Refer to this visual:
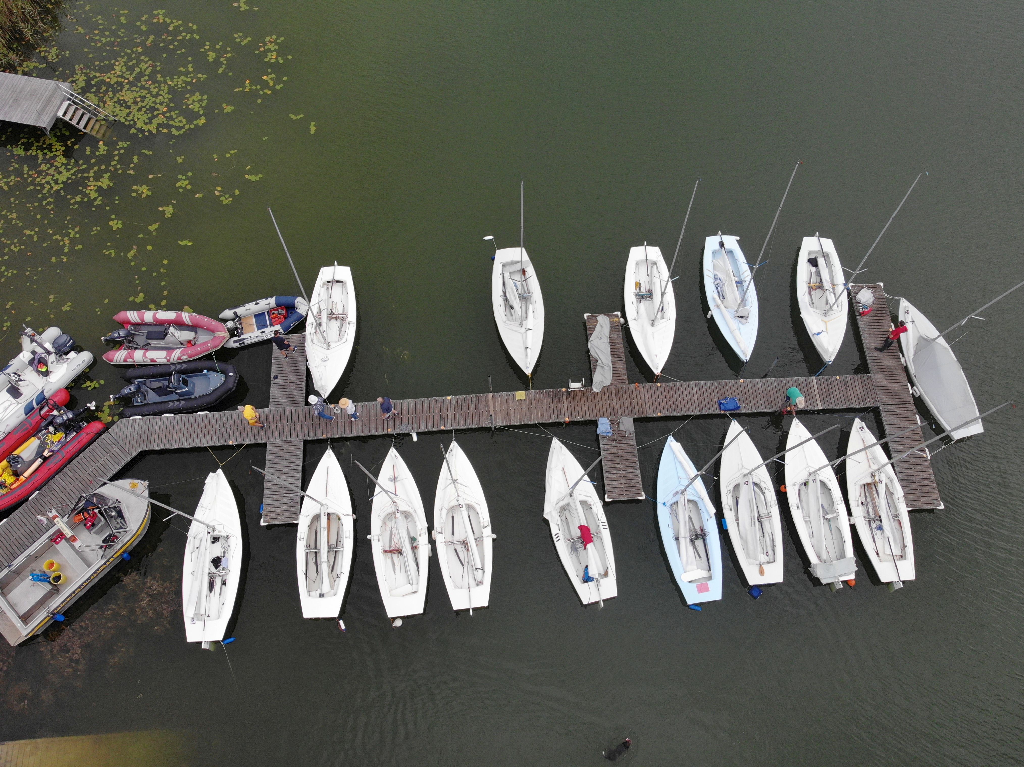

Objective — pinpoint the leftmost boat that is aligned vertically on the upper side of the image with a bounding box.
[267,200,356,398]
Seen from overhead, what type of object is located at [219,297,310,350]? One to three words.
boat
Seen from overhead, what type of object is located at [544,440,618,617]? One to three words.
boat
